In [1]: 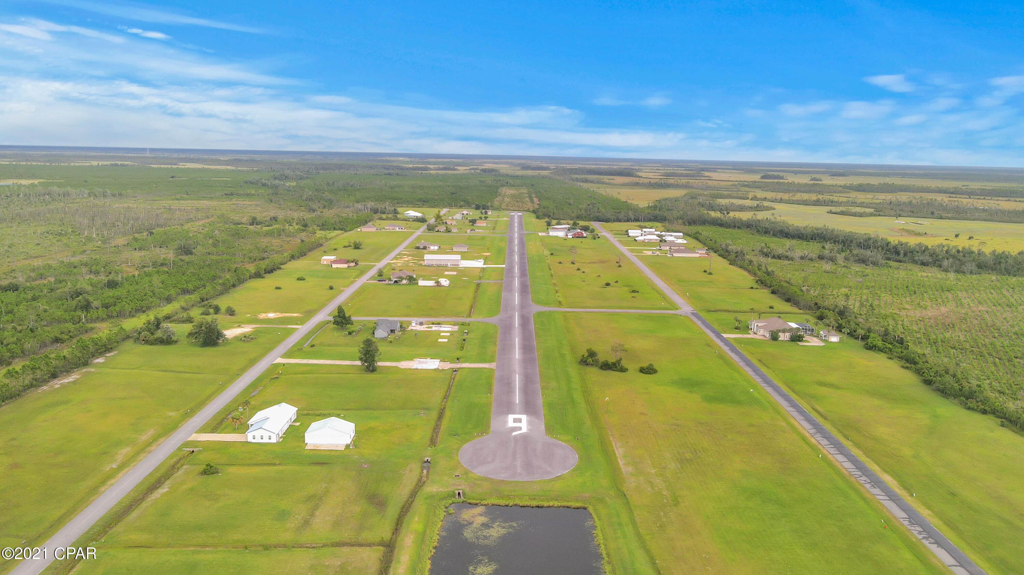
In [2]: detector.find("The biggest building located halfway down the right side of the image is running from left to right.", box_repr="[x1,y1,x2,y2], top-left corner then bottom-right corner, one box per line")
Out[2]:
[745,320,803,341]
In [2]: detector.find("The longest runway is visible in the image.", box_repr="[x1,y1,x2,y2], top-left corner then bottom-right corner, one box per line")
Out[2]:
[490,214,545,435]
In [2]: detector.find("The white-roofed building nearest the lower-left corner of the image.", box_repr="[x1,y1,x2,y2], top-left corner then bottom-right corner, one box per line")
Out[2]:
[245,403,299,444]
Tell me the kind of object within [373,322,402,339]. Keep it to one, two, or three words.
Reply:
house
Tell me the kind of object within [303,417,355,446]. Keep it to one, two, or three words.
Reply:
hangar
